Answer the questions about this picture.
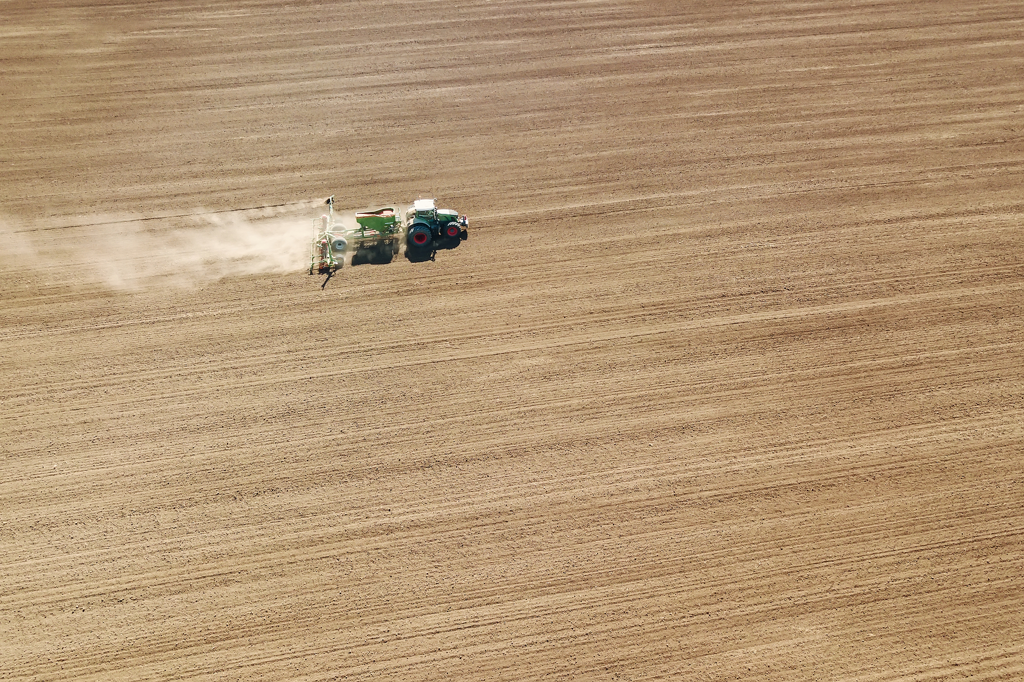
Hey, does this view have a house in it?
No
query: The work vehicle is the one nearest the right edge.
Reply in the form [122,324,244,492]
[404,195,469,248]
